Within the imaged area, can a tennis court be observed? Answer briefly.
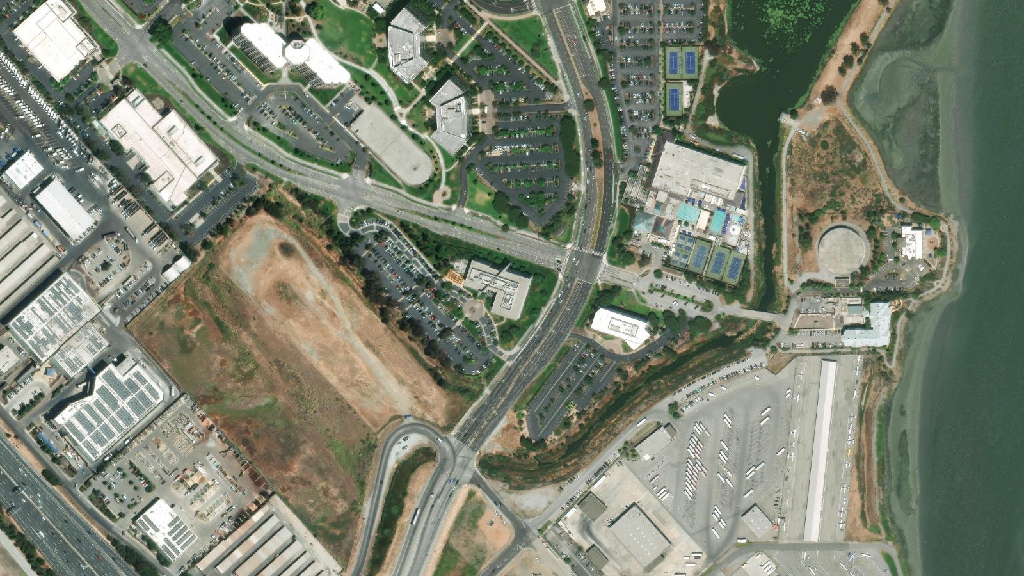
Yes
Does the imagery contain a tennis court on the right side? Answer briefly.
Yes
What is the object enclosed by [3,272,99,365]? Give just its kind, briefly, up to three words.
building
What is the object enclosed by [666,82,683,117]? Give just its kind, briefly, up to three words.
tennis court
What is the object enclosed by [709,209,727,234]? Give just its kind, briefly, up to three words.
swimming pool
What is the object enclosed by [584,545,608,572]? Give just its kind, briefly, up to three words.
shed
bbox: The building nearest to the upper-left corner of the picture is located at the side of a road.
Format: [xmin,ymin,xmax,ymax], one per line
[11,0,95,82]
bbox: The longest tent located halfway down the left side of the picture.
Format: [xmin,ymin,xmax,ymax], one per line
[160,255,191,283]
